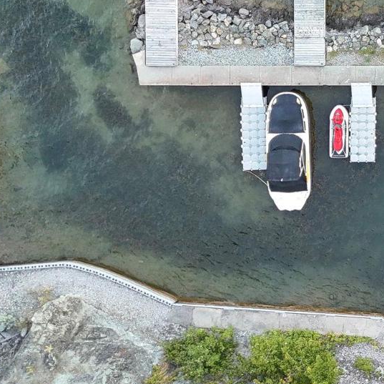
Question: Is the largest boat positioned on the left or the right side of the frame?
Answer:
right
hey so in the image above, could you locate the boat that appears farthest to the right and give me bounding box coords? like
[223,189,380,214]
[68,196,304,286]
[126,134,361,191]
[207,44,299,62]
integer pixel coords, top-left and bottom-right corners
[329,105,349,157]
